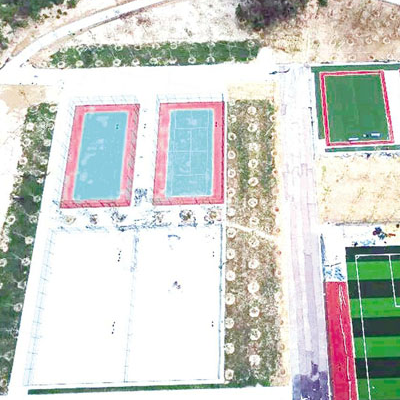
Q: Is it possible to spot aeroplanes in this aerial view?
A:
No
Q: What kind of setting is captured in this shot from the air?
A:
sports ground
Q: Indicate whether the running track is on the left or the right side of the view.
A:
right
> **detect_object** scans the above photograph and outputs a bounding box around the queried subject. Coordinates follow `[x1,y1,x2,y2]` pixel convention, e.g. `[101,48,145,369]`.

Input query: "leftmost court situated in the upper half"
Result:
[60,104,139,209]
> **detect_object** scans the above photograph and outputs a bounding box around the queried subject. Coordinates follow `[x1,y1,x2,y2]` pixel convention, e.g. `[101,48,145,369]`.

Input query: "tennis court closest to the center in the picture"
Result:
[153,101,224,206]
